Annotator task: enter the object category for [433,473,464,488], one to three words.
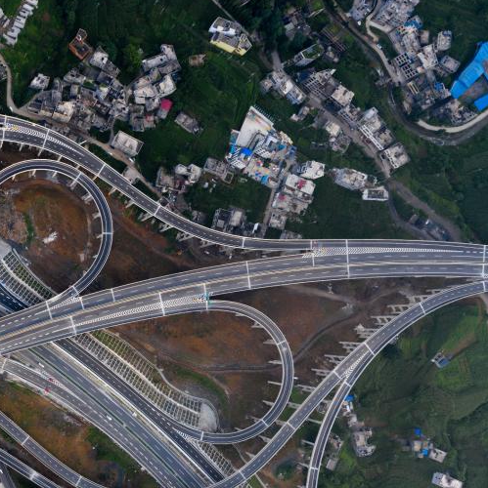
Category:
house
